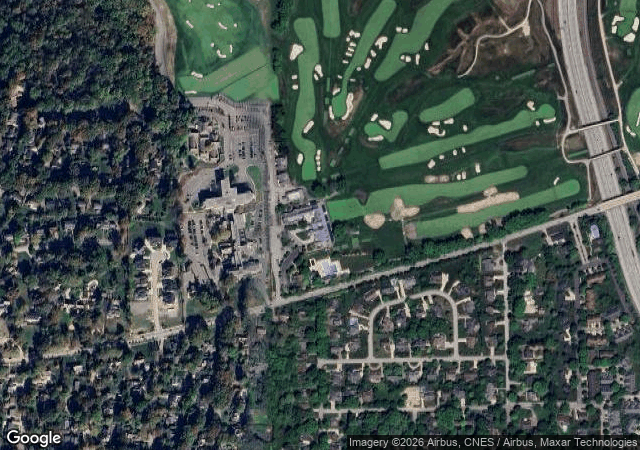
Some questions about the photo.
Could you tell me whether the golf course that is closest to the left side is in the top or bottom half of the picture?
top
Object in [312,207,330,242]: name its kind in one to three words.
building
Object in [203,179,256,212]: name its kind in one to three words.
building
